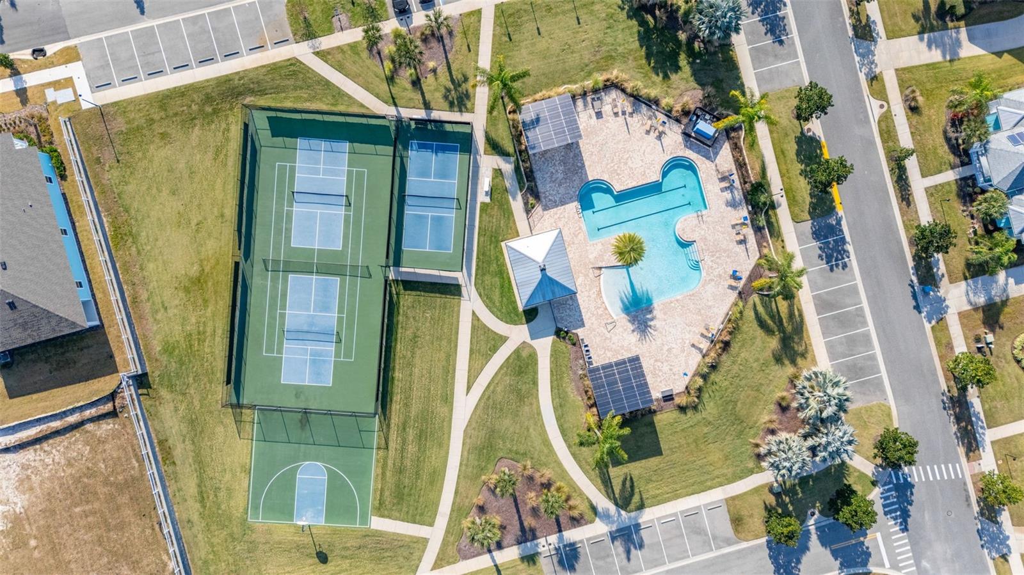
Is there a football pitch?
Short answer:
No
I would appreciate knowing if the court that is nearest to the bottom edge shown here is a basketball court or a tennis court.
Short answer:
basketball court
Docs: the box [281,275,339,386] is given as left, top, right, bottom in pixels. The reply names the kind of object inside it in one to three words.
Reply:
sports court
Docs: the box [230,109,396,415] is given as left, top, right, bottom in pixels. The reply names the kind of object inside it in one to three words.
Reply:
tennis court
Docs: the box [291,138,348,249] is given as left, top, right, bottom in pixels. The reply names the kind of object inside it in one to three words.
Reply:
sports court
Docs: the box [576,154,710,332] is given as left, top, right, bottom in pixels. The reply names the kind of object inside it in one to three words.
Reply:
swimming pool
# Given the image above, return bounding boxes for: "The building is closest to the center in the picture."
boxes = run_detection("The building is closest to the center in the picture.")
[506,228,577,308]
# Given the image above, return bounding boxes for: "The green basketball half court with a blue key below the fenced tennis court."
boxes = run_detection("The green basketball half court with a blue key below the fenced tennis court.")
[247,408,378,529]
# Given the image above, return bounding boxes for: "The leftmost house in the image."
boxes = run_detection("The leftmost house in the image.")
[0,131,97,351]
